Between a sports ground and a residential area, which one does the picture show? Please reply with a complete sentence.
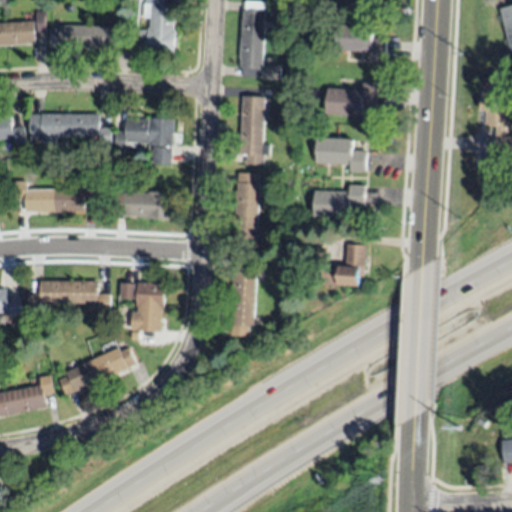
This looks like a residential area.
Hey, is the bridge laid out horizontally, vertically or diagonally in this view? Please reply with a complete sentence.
The bridge has been laid out vertically relative to the frame.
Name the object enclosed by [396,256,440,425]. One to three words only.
bridge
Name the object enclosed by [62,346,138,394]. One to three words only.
house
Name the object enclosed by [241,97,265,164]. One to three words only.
building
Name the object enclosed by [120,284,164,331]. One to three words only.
house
